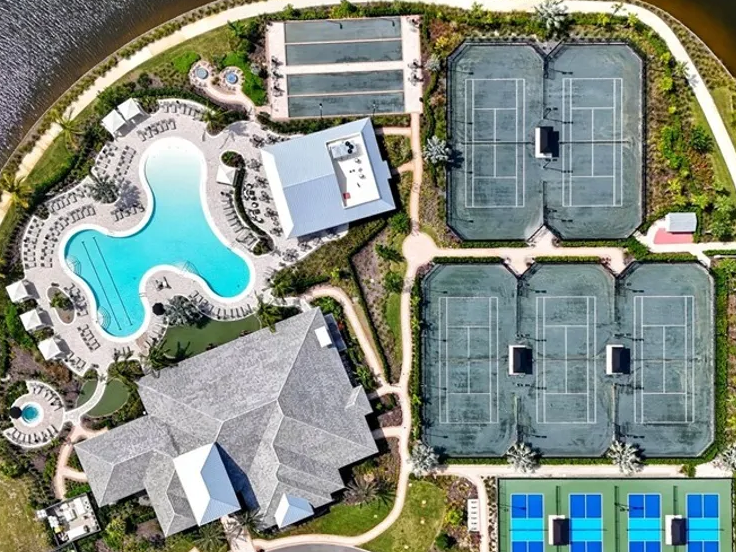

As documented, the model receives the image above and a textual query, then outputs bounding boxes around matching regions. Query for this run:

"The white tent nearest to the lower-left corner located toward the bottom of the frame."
[40,337,66,360]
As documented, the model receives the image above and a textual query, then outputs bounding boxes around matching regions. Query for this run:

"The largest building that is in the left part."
[74,308,377,537]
